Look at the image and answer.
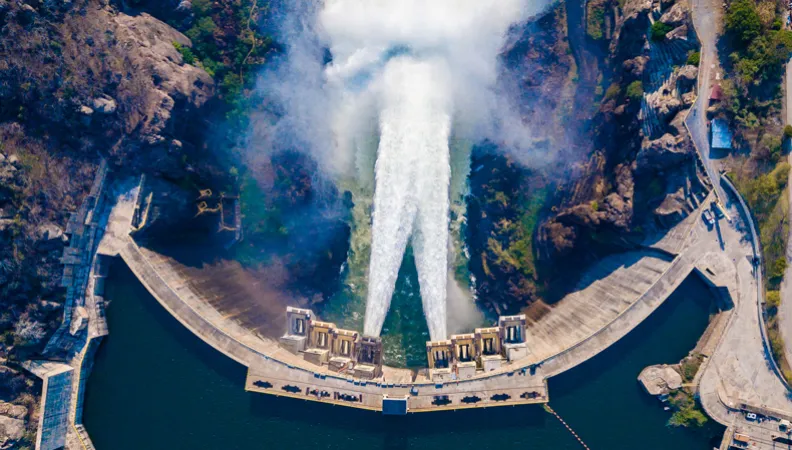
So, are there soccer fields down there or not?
No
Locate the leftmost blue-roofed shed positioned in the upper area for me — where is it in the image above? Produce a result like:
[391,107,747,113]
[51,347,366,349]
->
[708,118,736,148]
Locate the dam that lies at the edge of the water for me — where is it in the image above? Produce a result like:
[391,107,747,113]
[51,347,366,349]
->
[104,197,712,414]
